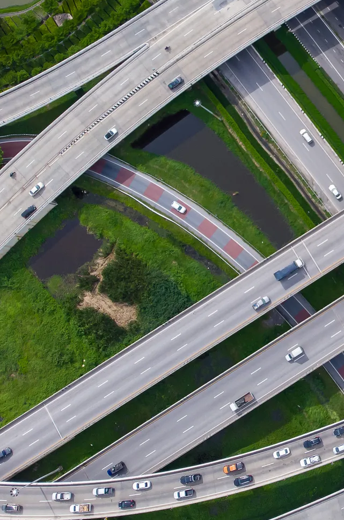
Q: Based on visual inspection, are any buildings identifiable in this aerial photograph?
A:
No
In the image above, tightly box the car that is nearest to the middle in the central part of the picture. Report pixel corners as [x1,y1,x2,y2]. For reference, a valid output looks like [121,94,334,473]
[171,200,187,214]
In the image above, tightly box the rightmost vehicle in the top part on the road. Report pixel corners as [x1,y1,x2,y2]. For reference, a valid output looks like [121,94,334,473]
[328,185,342,200]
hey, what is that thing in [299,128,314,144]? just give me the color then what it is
white car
